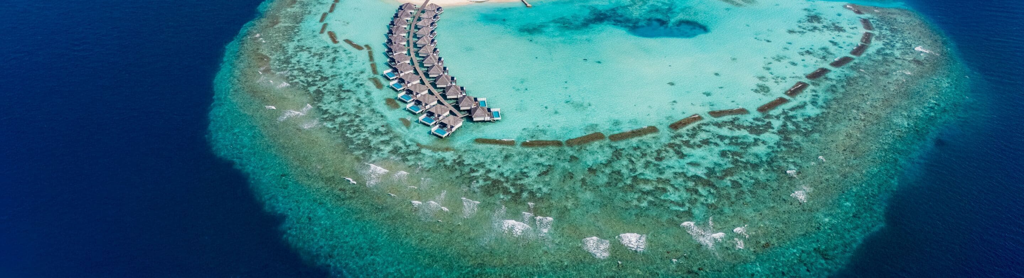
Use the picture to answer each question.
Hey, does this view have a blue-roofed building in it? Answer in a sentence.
No, no blue-roofed building is visible in the view.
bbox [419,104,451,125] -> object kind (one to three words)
house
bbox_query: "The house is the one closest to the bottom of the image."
[432,115,464,140]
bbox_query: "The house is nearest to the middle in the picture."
[470,106,501,123]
